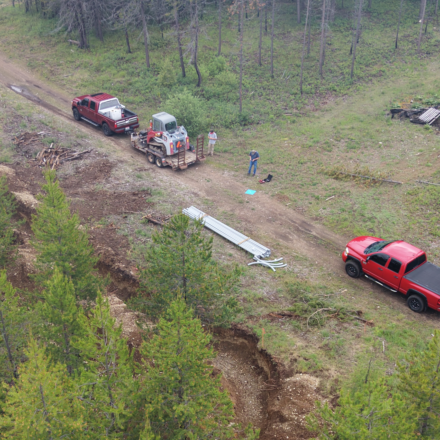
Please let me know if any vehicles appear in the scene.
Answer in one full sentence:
Yes, the frame does contain a vehicle.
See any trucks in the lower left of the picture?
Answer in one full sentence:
No, I see no truck in the lower left of the picture.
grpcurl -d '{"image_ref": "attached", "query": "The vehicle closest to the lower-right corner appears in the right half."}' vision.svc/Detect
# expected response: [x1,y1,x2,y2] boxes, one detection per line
[340,235,440,315]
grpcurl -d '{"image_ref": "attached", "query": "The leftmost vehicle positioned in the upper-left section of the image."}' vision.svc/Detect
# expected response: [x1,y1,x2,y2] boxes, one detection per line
[67,91,143,138]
